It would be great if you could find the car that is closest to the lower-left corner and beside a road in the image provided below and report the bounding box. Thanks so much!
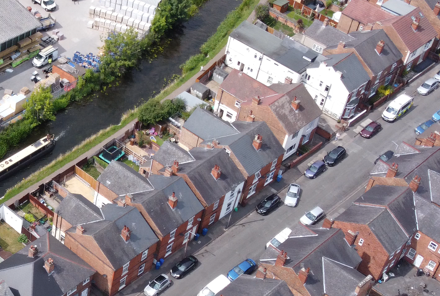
[143,274,173,296]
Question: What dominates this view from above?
buildings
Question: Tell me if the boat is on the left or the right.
left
